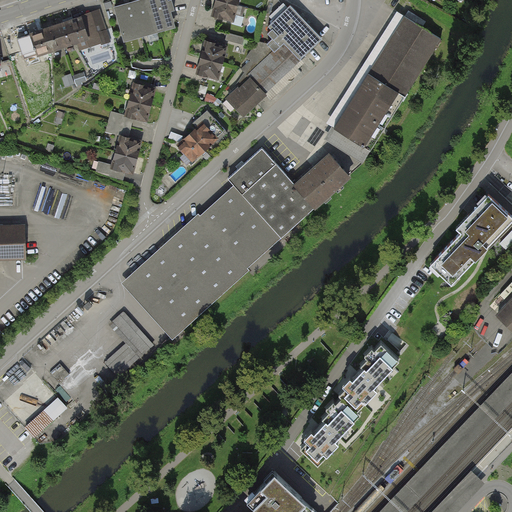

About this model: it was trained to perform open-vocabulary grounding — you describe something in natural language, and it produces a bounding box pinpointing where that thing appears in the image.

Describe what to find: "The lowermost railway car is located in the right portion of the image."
[354,484,386,512]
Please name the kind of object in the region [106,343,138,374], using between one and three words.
shed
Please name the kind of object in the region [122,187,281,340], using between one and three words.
warehouse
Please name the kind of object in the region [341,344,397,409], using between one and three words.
building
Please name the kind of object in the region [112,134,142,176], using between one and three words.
house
